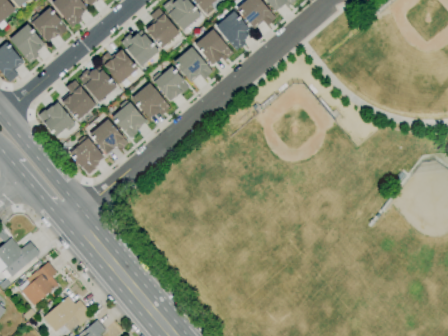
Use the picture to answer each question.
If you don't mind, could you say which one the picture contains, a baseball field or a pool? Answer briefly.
baseball field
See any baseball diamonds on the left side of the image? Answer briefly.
No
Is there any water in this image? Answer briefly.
No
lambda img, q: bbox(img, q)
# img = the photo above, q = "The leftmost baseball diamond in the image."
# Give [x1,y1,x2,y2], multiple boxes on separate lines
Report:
[258,82,336,162]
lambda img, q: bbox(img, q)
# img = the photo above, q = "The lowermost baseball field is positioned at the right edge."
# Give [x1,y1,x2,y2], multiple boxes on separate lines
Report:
[396,159,448,236]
